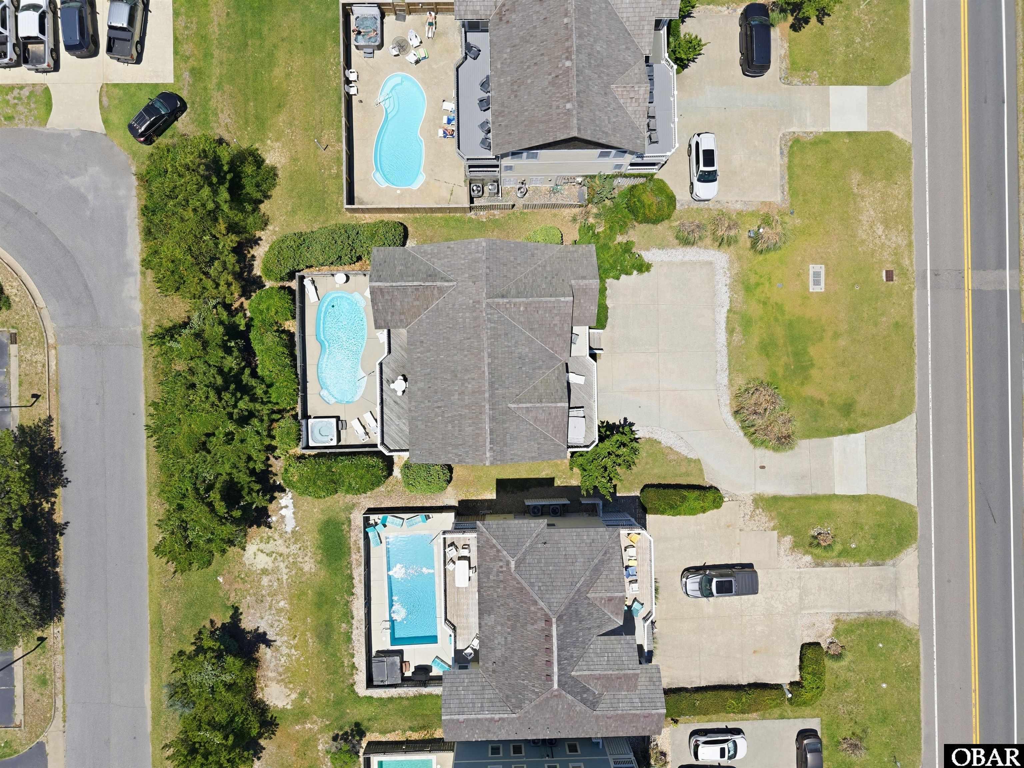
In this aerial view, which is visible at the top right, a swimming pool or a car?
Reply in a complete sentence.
The one visible at the top right is a car.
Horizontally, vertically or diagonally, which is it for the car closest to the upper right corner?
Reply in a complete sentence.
The car closest to the upper right corner runs vertically in the image.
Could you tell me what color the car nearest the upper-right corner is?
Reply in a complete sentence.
In this view, the car nearest the upper-right corner is black.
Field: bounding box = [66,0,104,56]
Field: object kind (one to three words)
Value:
car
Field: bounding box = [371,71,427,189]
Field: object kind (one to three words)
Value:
swimming pool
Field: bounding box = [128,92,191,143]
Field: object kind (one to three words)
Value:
car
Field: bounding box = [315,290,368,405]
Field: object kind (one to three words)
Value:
swimming pool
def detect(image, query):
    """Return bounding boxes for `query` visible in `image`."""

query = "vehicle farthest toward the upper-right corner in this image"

[733,5,770,81]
